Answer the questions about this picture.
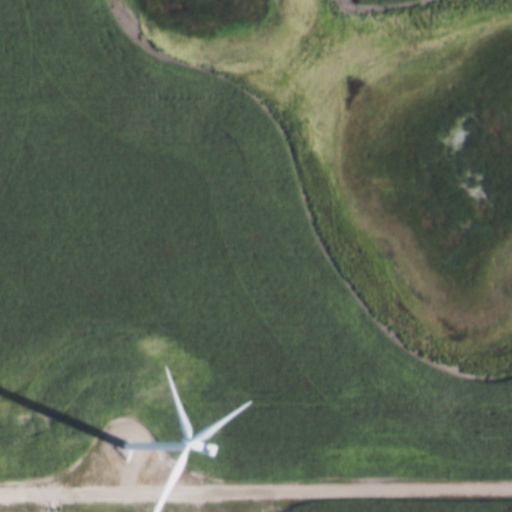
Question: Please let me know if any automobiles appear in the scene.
No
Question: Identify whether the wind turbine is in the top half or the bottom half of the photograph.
bottom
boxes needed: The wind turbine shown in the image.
[122,366,252,512]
